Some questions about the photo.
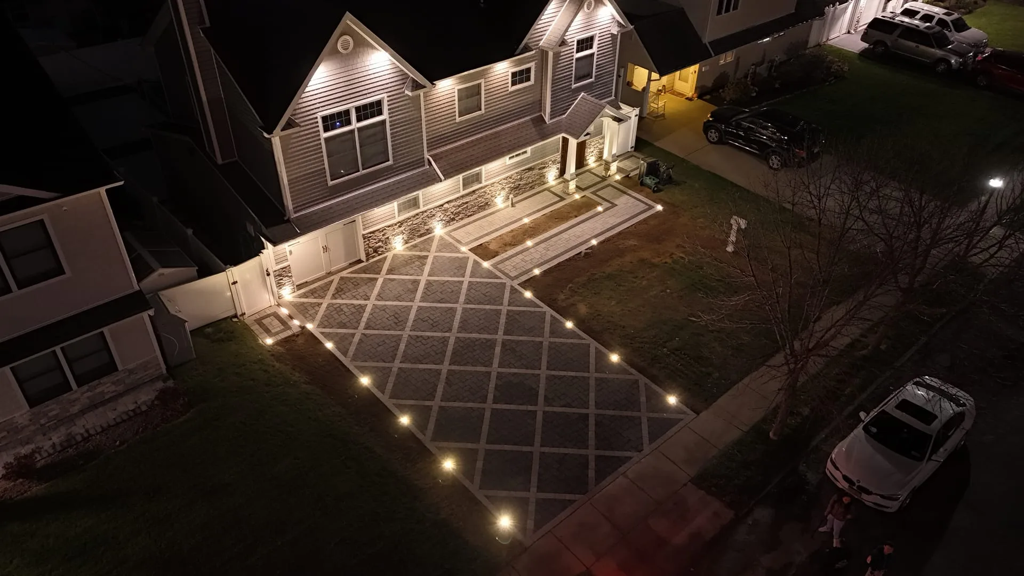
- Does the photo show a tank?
No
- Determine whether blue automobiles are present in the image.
No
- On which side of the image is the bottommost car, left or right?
right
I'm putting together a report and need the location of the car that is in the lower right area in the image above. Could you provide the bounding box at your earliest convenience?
[824,372,975,510]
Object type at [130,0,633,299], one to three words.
house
